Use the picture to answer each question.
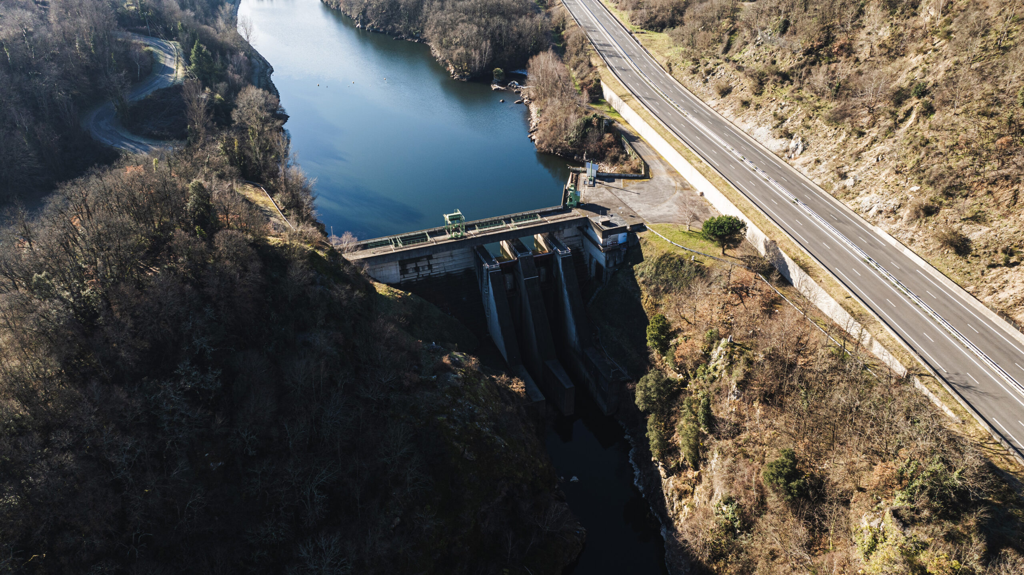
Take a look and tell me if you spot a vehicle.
No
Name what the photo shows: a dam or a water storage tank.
dam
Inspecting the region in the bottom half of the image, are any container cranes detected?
No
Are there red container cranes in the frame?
No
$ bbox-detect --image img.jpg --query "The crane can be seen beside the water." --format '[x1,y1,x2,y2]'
[441,207,467,239]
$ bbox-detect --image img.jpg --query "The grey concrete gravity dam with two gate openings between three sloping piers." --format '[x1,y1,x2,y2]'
[326,204,621,425]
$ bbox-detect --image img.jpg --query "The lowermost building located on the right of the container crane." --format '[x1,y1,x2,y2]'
[579,212,644,283]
